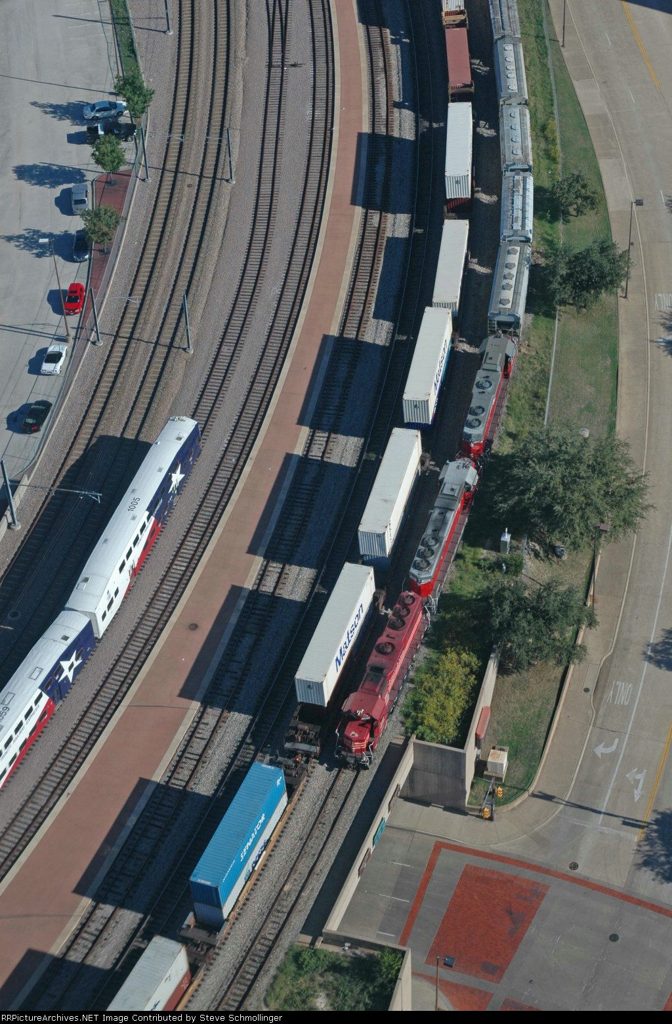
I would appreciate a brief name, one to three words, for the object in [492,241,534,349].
rail car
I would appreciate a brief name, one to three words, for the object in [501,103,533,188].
rail car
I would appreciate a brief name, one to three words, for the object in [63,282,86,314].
car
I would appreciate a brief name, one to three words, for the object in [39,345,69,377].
car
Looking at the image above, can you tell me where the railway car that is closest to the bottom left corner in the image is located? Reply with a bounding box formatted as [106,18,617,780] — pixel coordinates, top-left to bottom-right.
[166,946,208,1024]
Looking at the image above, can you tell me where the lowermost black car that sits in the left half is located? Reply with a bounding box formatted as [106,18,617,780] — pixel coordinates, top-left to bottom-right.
[19,399,51,433]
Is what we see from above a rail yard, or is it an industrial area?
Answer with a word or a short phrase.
rail yard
